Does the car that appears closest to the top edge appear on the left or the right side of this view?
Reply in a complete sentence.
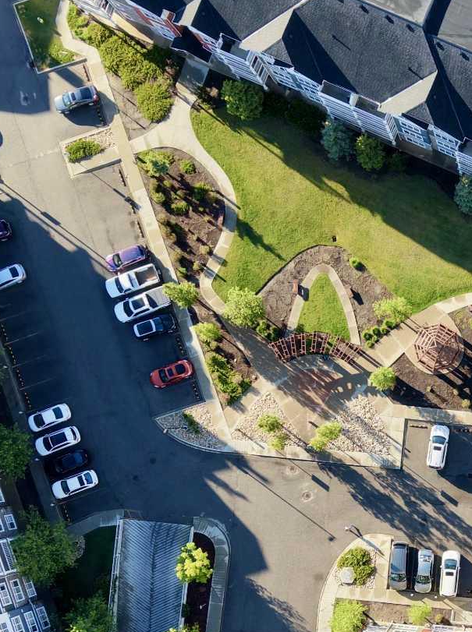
It is on the left.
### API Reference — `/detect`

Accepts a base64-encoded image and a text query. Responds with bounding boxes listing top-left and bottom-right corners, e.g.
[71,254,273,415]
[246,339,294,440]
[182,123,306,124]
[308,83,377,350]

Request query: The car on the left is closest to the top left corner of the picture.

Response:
[54,83,102,112]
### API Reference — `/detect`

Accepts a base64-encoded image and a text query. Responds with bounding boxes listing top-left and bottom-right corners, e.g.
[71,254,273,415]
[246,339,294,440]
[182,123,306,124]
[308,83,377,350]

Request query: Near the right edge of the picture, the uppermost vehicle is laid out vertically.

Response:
[426,425,450,470]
